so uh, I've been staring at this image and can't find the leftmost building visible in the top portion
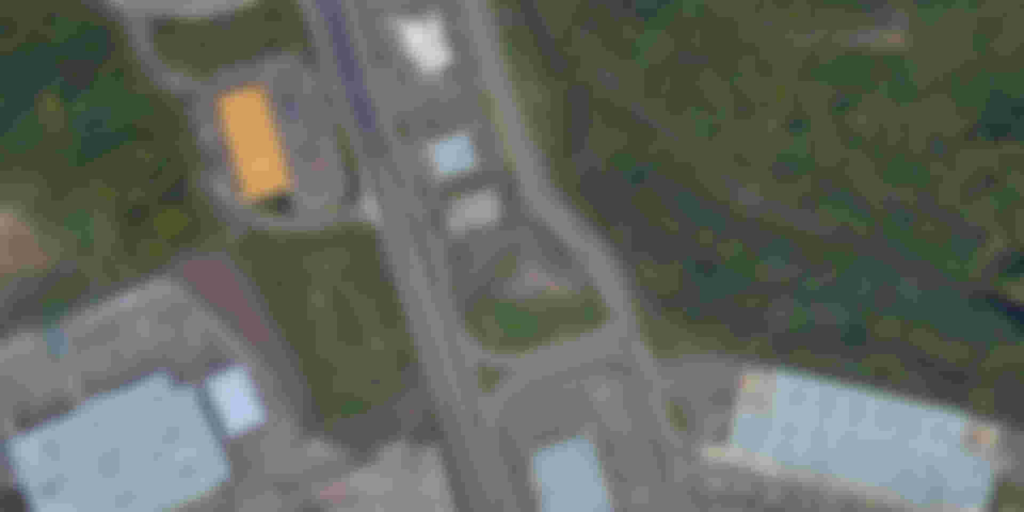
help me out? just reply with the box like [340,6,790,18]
[218,84,292,204]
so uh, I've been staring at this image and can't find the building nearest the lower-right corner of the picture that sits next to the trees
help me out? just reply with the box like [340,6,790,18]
[728,368,1001,512]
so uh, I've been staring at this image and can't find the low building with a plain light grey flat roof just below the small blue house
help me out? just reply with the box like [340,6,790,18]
[449,190,503,233]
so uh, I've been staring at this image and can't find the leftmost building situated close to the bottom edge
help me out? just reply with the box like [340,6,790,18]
[7,370,233,512]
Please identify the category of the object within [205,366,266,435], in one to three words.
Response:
building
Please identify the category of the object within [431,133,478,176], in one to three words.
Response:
house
